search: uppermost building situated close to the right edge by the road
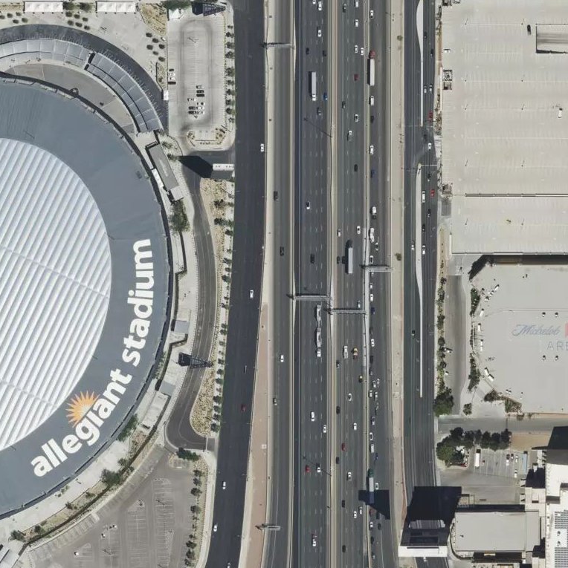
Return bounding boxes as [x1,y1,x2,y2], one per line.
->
[441,0,568,196]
